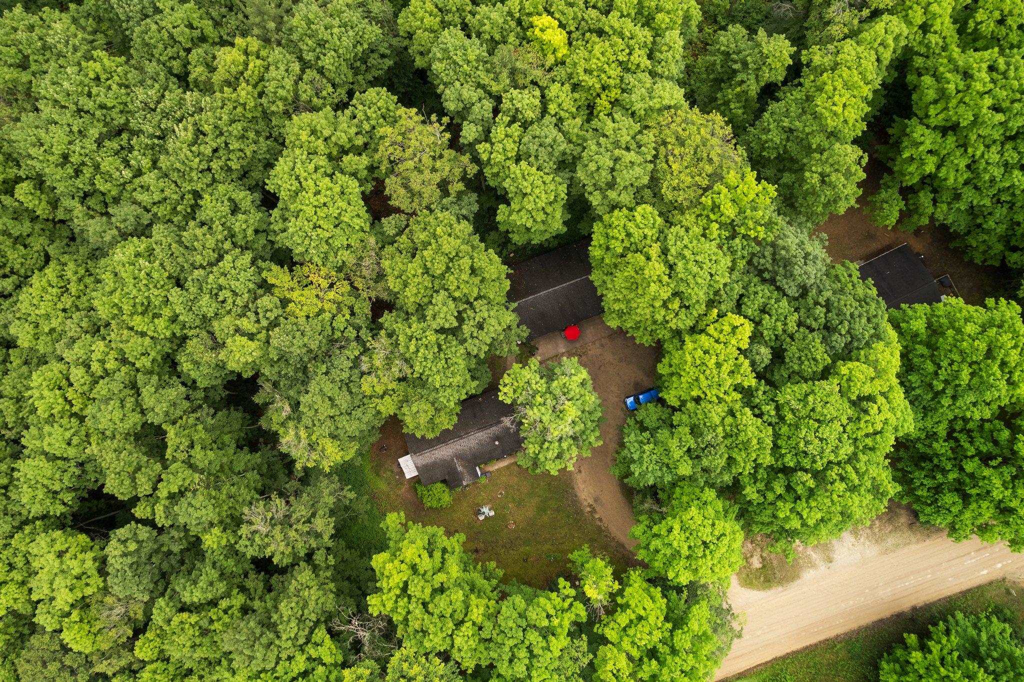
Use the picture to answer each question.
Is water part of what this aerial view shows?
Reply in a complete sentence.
No, there is no water in the image.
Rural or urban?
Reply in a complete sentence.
The area is rural.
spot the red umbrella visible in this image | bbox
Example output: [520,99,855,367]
[563,326,580,341]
